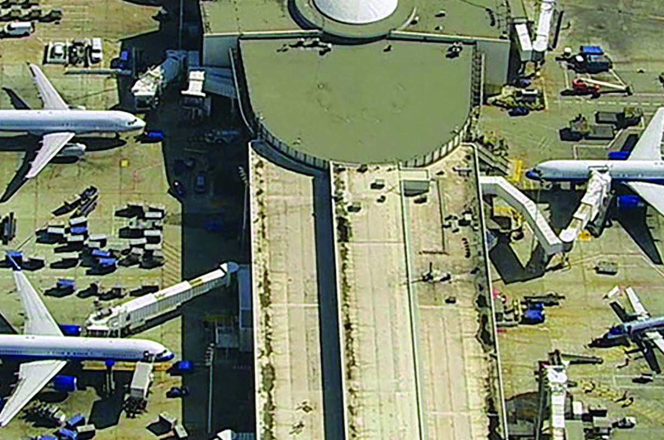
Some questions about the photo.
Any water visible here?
No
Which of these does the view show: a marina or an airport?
airport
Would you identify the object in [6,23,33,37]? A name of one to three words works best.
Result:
vehicle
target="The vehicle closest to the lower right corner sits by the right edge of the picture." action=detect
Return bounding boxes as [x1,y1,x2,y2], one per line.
[614,417,644,434]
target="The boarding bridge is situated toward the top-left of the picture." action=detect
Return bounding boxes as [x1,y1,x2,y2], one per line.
[130,47,200,111]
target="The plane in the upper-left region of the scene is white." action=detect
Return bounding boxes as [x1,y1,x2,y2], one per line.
[0,62,145,178]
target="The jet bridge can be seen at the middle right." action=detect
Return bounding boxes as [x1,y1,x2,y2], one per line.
[480,170,611,274]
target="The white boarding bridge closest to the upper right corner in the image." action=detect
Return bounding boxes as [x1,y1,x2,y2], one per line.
[510,0,561,81]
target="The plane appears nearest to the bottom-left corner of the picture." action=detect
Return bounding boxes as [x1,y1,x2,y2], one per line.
[0,259,174,421]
